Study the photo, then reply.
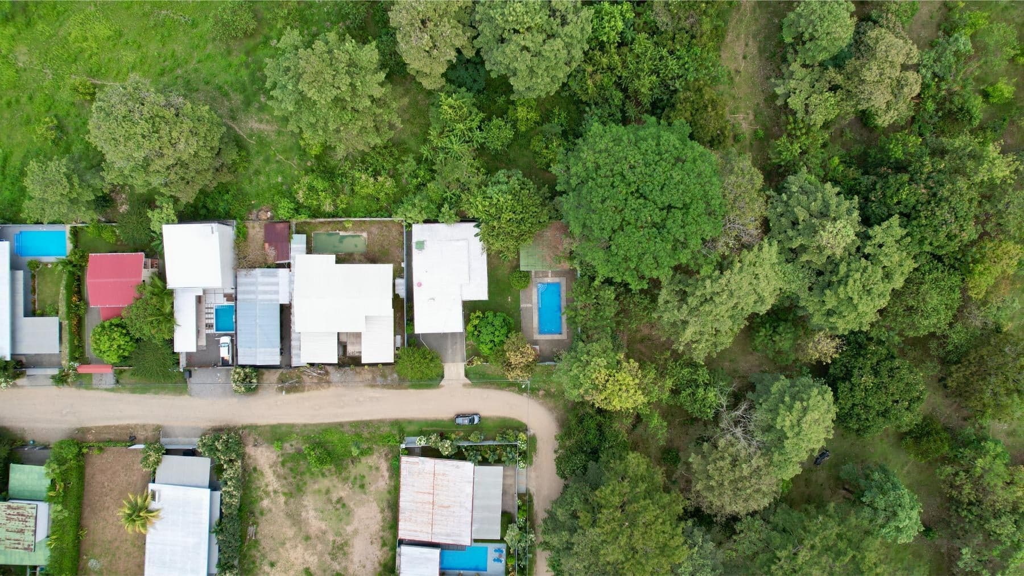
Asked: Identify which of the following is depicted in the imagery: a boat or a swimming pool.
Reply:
swimming pool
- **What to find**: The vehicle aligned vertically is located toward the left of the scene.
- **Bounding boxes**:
[219,335,233,365]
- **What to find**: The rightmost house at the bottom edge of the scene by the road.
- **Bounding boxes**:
[398,455,503,576]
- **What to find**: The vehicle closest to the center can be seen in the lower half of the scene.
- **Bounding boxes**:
[455,413,480,426]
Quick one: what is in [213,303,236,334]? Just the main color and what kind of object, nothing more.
blue swimming pool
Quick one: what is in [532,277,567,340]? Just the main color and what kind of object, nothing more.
blue swimming pool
